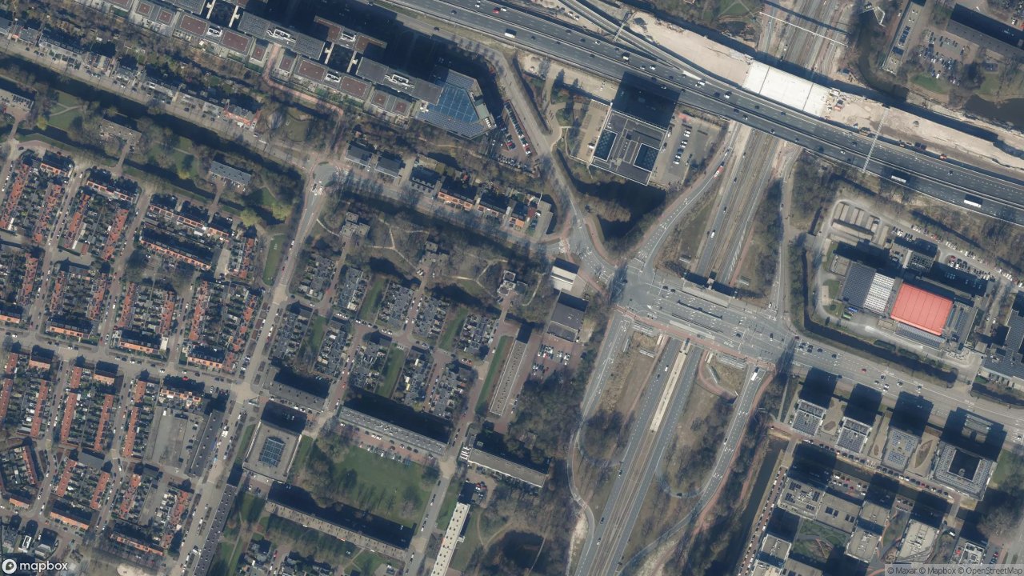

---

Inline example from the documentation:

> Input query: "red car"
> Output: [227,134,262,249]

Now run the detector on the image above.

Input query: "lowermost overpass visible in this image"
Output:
[655,275,740,354]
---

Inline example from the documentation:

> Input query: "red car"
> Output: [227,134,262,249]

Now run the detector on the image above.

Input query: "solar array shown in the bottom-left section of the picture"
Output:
[260,437,285,465]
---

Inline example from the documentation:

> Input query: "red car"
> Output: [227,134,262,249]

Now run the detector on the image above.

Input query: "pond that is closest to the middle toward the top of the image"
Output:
[555,149,666,241]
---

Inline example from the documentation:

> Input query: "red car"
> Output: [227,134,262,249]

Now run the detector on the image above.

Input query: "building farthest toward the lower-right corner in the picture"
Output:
[947,538,986,573]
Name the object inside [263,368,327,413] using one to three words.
building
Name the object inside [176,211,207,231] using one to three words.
building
